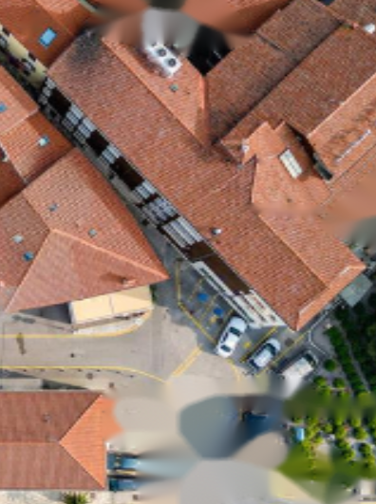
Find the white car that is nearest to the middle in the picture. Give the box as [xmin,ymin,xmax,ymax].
[216,317,248,356]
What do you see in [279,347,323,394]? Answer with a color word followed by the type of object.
white vehicle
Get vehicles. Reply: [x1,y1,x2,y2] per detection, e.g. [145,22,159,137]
[248,334,283,372]
[216,317,248,356]
[108,455,149,476]
[108,474,149,495]
[279,347,323,394]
